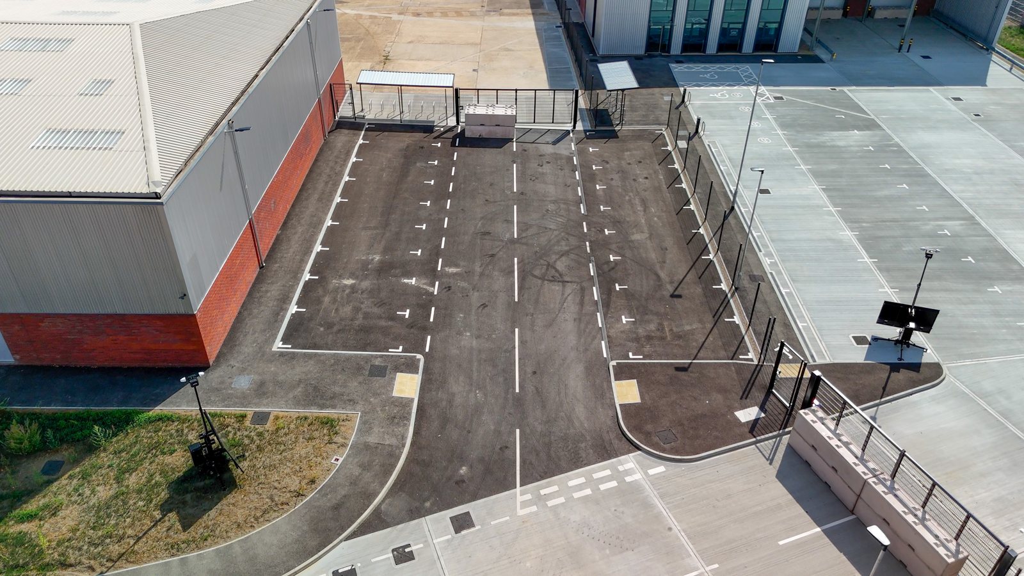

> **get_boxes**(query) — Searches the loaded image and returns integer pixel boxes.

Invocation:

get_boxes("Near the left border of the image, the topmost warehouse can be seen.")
[0,0,348,365]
